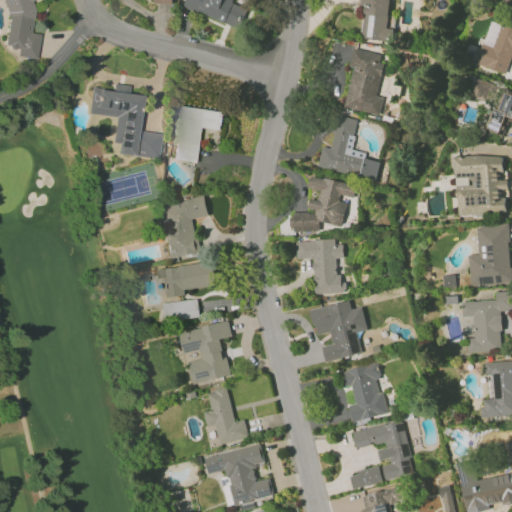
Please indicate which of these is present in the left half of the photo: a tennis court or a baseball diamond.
tennis court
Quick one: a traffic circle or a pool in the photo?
pool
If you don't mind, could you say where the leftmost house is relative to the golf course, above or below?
above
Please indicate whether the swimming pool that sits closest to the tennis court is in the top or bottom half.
top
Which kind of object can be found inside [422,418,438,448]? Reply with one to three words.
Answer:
swimming pool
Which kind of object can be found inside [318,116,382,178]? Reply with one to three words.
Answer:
house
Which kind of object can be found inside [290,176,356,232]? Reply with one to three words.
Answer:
house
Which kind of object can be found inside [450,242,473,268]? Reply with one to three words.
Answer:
swimming pool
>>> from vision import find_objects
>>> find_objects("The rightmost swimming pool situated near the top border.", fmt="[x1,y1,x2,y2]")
[402,0,414,26]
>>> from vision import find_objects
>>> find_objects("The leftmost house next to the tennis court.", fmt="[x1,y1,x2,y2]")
[92,82,164,158]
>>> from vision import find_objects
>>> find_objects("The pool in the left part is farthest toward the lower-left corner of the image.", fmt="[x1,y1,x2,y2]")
[169,467,192,486]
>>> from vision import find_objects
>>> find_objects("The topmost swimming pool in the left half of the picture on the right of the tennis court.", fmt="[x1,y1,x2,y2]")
[166,160,192,187]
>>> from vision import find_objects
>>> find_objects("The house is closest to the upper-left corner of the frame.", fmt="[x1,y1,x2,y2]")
[4,0,43,58]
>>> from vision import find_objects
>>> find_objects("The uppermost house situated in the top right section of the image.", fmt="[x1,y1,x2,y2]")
[362,0,392,46]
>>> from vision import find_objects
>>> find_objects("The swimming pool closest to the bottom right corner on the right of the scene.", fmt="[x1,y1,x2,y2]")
[452,428,470,458]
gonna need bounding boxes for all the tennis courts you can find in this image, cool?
[97,162,162,211]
